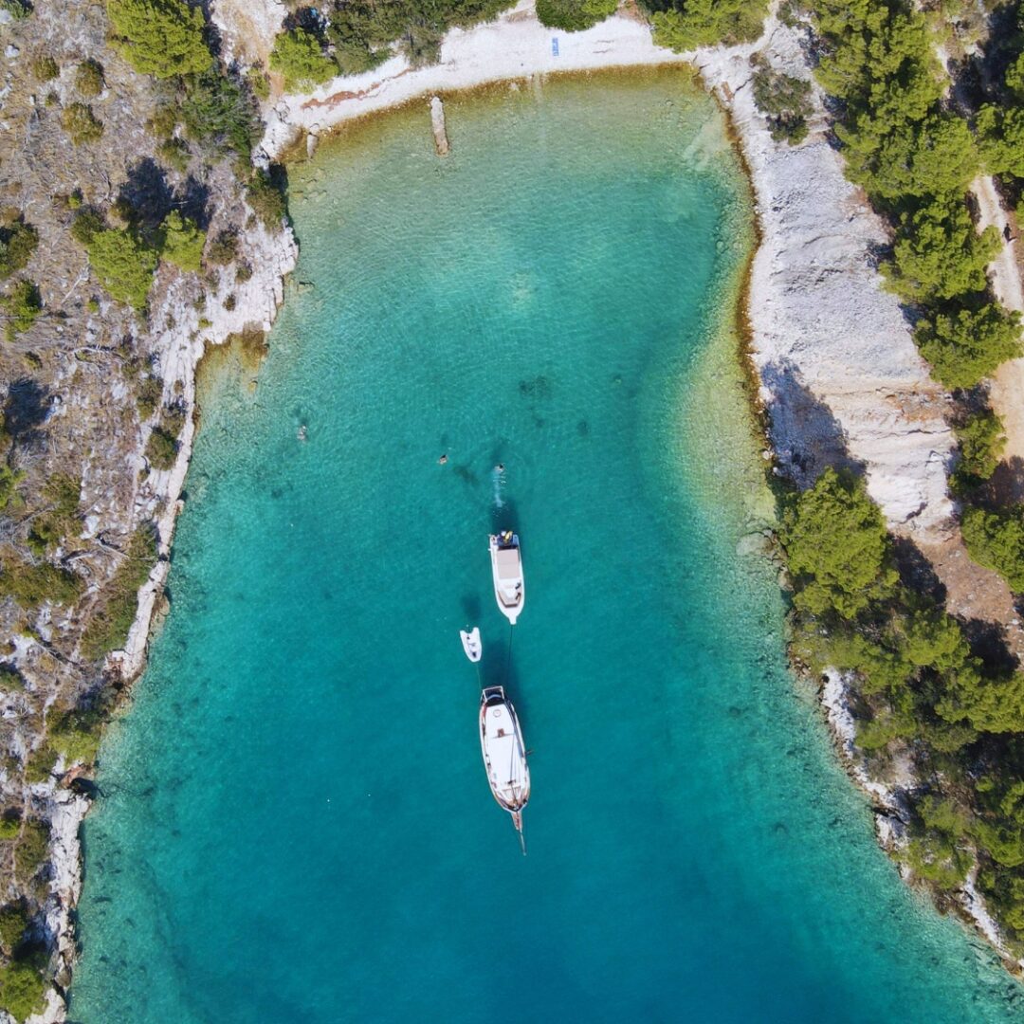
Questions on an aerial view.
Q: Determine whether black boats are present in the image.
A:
No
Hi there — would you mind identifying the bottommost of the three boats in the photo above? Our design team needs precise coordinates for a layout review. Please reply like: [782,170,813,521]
[479,685,533,860]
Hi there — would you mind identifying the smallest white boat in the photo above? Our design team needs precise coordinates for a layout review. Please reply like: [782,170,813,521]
[460,628,481,662]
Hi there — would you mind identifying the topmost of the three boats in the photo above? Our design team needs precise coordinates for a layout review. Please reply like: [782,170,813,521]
[486,530,525,625]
